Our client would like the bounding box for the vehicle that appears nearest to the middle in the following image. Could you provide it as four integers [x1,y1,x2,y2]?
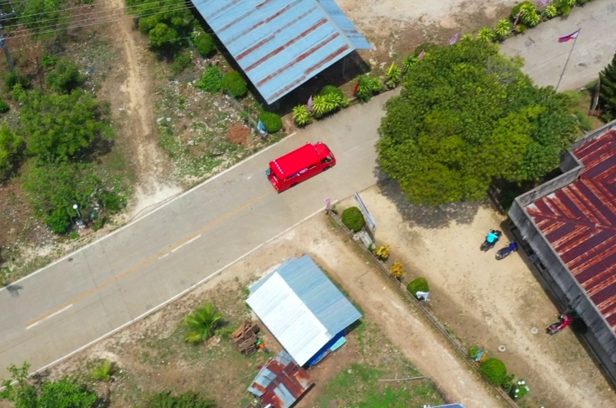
[269,143,341,195]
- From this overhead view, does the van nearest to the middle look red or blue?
red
